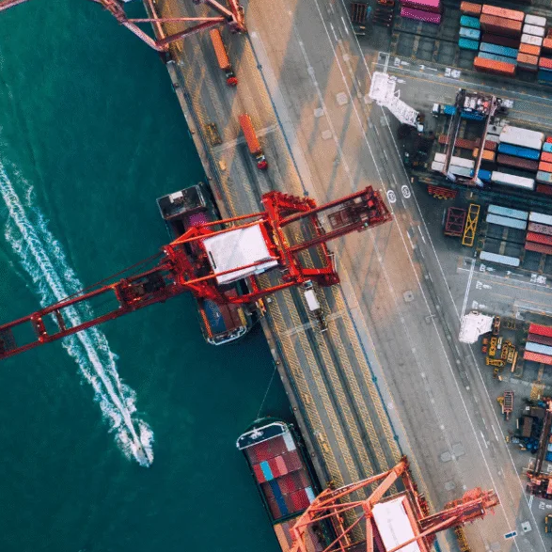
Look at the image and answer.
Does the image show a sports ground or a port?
port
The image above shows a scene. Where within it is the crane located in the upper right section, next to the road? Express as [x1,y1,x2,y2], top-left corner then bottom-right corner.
[440,85,504,192]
